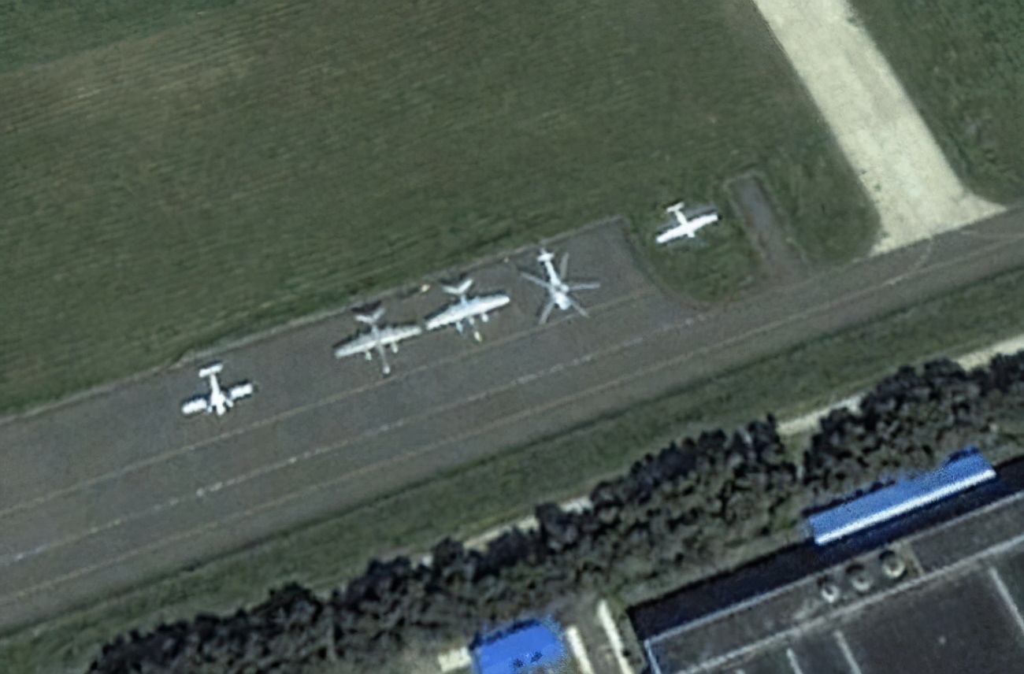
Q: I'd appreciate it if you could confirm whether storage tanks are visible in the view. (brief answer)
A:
No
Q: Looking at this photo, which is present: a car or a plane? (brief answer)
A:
plane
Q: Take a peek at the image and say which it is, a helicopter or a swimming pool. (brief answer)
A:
helicopter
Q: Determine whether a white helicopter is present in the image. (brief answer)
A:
Yes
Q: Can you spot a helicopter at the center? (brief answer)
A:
Yes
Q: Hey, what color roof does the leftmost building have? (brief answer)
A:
blue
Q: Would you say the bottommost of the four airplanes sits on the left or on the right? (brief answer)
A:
left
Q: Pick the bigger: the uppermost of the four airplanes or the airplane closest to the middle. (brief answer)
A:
the airplane closest to the middle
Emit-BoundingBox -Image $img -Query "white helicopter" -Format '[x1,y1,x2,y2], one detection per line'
[521,248,600,324]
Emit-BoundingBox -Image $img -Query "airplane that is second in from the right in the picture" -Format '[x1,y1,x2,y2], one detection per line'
[424,275,509,342]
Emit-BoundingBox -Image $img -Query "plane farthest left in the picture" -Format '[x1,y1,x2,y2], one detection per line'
[182,366,253,417]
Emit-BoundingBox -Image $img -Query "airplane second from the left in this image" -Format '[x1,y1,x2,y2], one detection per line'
[333,305,419,374]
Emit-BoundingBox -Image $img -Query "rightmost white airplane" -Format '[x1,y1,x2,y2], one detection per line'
[659,199,720,240]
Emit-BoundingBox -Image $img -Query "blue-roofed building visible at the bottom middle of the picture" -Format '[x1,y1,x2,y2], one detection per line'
[476,621,577,674]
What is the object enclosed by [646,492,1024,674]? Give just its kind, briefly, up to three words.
building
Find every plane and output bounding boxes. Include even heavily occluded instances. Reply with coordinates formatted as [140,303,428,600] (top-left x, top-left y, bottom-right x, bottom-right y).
[333,305,419,374]
[659,199,720,240]
[424,275,509,342]
[182,366,253,417]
